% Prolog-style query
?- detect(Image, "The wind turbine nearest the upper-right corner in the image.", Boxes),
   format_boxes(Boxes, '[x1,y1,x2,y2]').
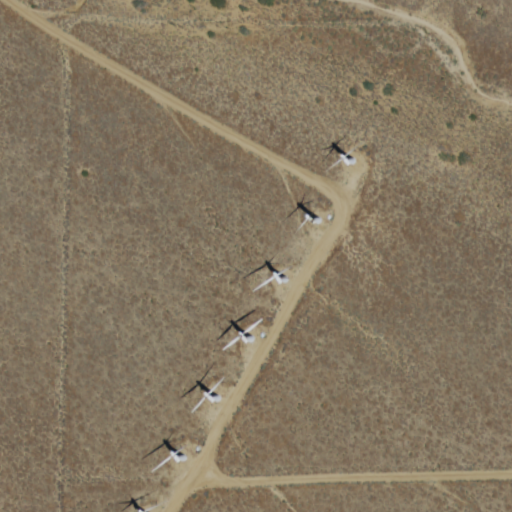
[330,140,362,167]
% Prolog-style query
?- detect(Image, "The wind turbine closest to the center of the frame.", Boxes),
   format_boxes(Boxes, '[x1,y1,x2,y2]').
[253,268,290,289]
